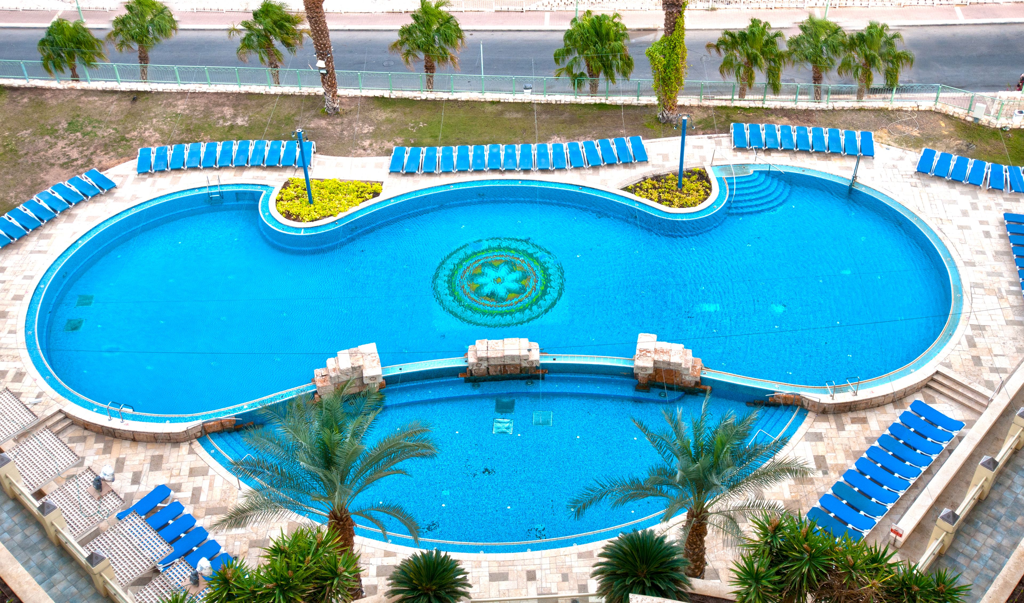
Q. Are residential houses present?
No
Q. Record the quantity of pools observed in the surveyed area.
two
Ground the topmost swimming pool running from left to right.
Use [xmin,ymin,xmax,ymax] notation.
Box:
[36,170,952,415]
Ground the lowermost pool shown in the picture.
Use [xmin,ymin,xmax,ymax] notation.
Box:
[207,374,800,544]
